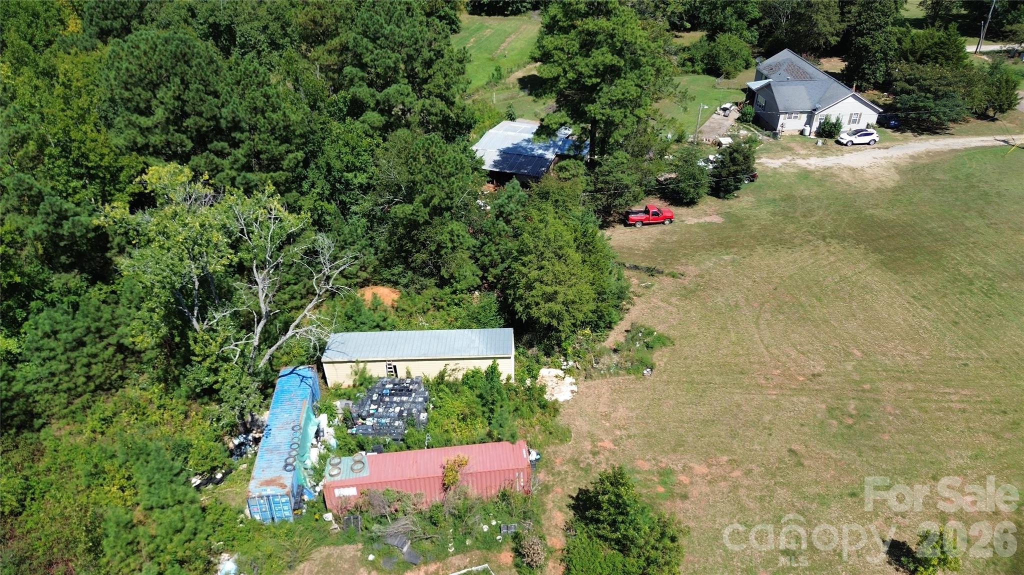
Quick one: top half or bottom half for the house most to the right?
top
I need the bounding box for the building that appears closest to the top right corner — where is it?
[739,47,881,134]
